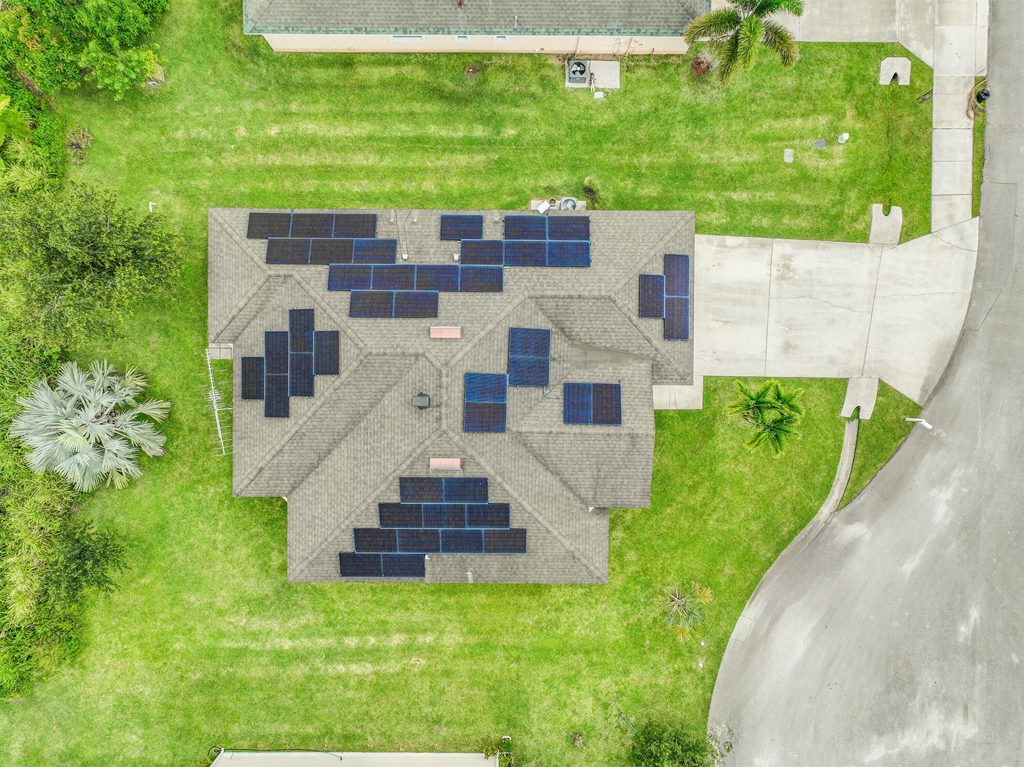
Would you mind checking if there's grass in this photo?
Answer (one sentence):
Yes, there is grass in the image.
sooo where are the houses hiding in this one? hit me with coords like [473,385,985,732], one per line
[208,209,695,583]
[203,744,500,767]
[243,0,711,59]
